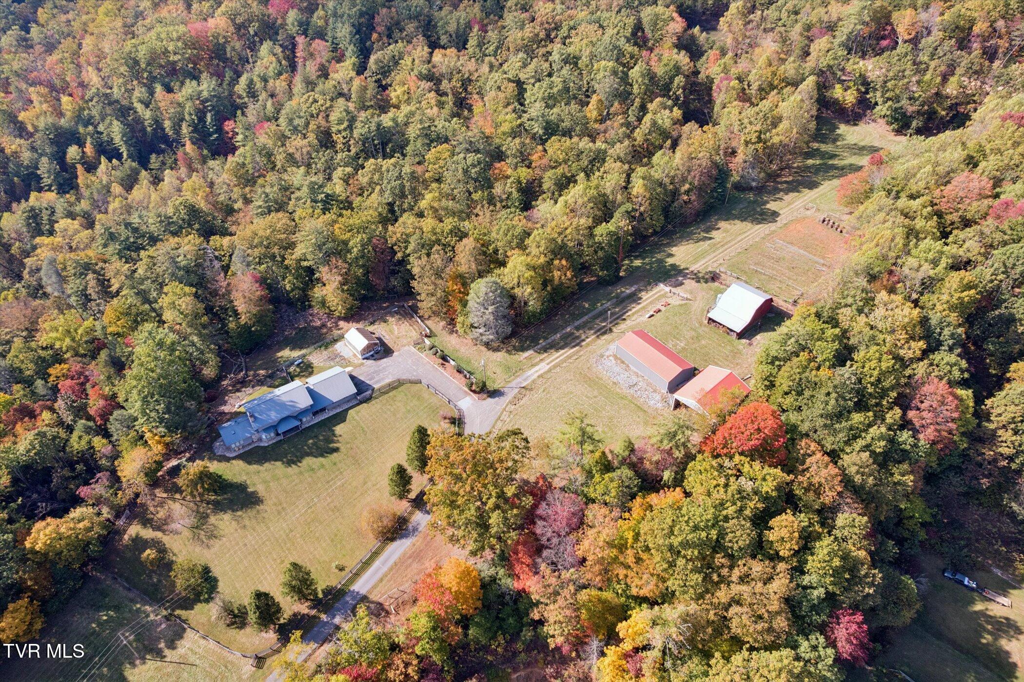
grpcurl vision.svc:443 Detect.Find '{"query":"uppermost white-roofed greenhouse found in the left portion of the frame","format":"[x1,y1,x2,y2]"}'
[344,327,380,359]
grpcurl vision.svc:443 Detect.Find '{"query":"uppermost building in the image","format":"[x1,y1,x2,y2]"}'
[706,281,773,338]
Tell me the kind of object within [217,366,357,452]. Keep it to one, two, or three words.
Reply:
house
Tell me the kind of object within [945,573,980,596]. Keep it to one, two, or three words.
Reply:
truck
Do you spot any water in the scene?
No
